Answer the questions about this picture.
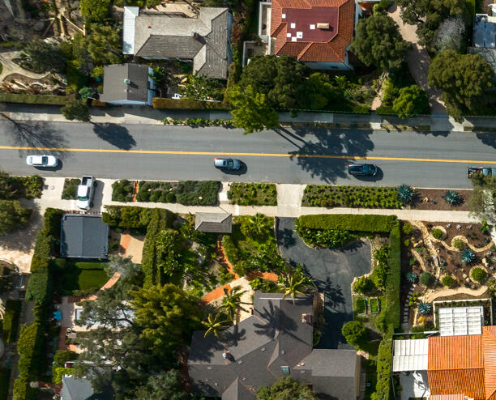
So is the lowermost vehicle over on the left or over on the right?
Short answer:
left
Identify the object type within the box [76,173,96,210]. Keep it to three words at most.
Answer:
vehicle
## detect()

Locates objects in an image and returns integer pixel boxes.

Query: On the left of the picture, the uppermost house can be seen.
[123,6,236,82]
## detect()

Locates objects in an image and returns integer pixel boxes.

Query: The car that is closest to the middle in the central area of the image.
[216,158,244,172]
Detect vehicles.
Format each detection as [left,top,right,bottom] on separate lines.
[27,154,61,169]
[348,163,379,178]
[216,158,244,172]
[76,173,96,210]
[468,165,496,180]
